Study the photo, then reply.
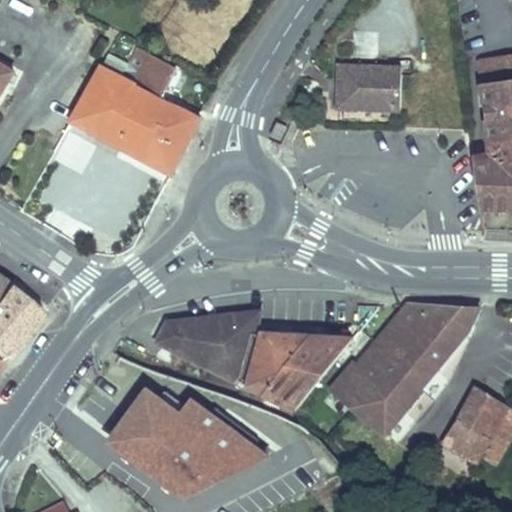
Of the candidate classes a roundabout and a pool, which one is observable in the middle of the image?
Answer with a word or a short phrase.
roundabout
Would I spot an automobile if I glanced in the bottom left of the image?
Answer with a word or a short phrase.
Yes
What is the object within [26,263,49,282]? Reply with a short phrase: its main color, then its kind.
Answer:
white car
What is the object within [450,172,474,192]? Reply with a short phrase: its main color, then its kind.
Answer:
white car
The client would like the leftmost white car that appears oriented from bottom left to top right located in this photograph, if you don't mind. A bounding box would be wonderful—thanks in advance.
[32,332,49,354]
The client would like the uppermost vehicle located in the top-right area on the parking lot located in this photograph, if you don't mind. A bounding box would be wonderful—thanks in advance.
[461,10,480,23]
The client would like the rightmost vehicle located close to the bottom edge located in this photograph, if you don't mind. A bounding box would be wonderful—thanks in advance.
[295,466,314,486]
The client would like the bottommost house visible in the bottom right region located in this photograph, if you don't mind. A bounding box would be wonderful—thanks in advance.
[442,386,512,466]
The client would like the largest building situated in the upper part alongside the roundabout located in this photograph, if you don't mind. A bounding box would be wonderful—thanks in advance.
[70,63,201,180]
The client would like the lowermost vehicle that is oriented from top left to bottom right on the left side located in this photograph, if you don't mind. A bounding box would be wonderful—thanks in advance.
[94,375,117,394]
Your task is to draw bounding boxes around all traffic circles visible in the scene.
[186,153,296,261]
